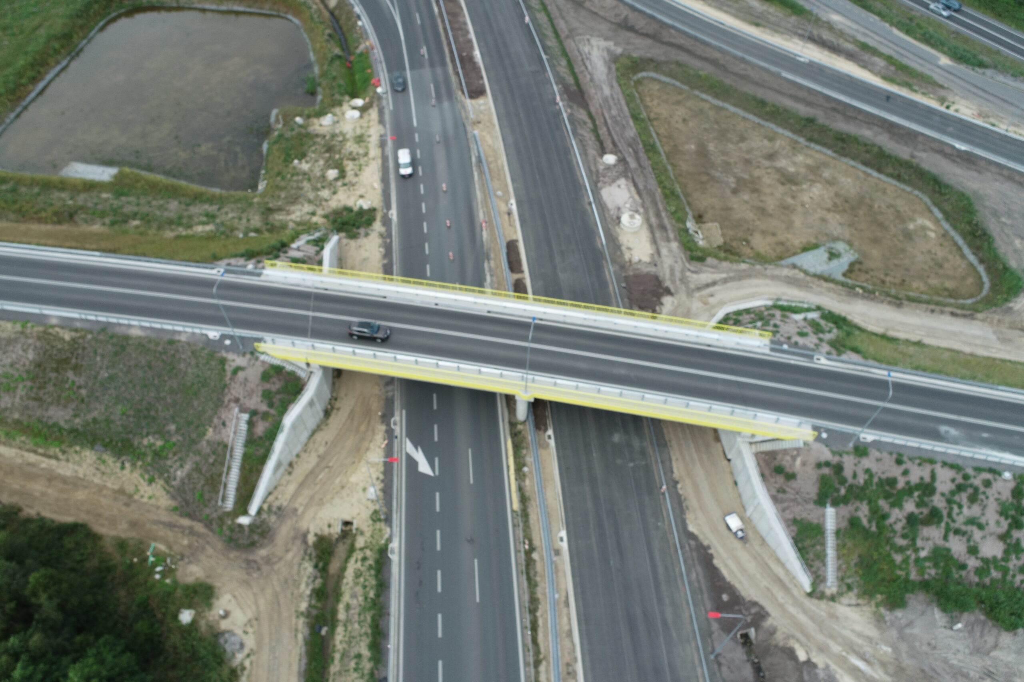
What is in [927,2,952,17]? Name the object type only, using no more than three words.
car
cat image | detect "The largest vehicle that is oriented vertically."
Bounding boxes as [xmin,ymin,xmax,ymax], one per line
[398,148,413,178]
